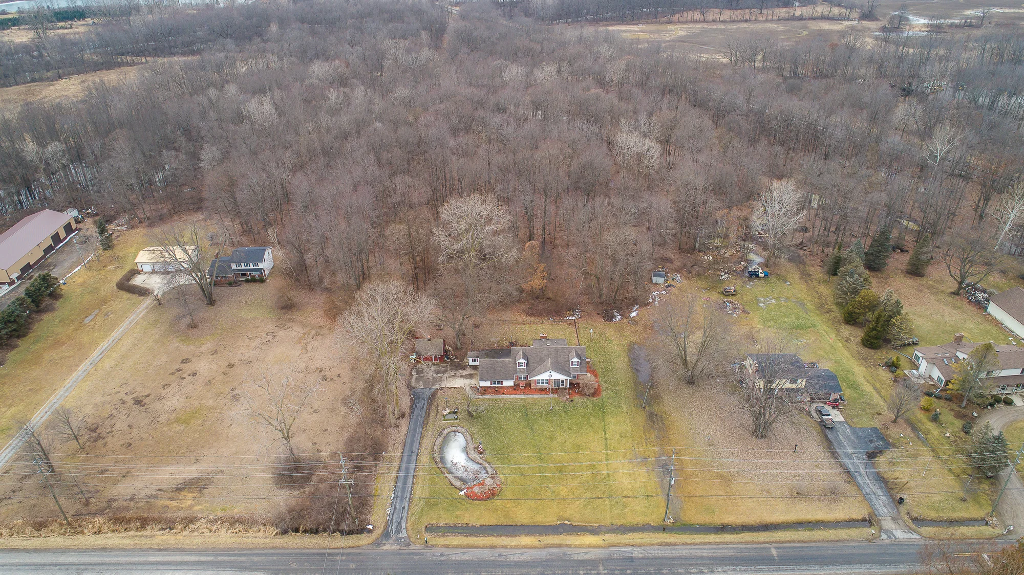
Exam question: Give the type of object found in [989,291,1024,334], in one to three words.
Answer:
building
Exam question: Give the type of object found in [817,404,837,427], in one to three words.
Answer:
vehicle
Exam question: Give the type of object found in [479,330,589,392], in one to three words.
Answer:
house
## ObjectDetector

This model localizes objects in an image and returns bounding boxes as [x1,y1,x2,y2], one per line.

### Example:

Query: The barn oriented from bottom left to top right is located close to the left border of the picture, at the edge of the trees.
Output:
[0,208,78,286]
